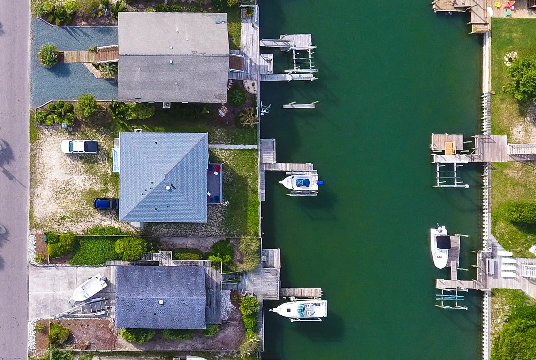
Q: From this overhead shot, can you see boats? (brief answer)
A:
Yes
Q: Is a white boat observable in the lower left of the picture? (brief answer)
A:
Yes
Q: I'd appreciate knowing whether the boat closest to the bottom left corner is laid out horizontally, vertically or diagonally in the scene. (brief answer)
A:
diagonally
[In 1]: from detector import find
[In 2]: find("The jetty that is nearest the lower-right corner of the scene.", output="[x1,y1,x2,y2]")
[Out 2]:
[431,233,477,289]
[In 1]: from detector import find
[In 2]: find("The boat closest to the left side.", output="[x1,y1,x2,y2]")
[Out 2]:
[72,270,110,300]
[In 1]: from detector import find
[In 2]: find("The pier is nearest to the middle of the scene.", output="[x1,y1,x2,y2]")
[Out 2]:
[259,138,316,200]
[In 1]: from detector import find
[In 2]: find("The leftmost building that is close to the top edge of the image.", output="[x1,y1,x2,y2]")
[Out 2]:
[96,13,244,103]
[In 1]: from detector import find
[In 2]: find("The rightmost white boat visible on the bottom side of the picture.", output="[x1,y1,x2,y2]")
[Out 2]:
[431,222,451,269]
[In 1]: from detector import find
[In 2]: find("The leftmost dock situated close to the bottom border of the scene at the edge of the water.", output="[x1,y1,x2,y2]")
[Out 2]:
[236,249,323,351]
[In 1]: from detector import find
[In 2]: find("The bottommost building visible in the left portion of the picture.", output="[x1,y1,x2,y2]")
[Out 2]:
[105,250,238,329]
